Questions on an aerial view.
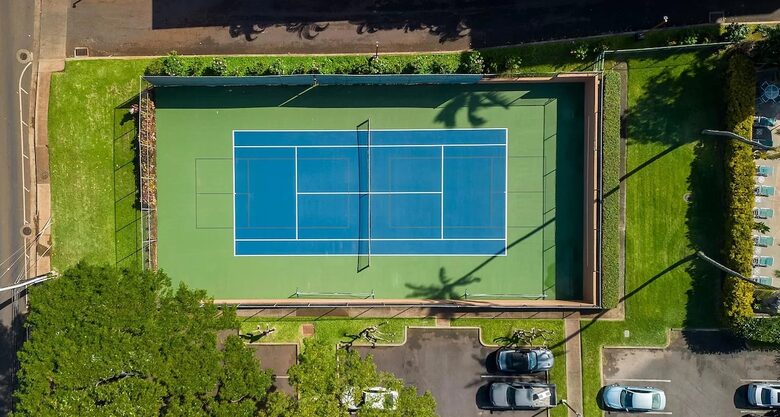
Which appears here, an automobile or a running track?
automobile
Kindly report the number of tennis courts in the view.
1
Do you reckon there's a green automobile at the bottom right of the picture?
No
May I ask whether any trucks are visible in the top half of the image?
No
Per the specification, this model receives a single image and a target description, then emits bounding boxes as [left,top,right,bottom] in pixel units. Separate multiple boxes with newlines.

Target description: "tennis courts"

[157,82,583,298]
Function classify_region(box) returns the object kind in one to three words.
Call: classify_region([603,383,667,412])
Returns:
car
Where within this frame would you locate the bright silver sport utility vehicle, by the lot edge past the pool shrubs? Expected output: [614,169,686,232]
[744,383,780,412]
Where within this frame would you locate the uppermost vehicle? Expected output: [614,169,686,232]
[497,347,553,375]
